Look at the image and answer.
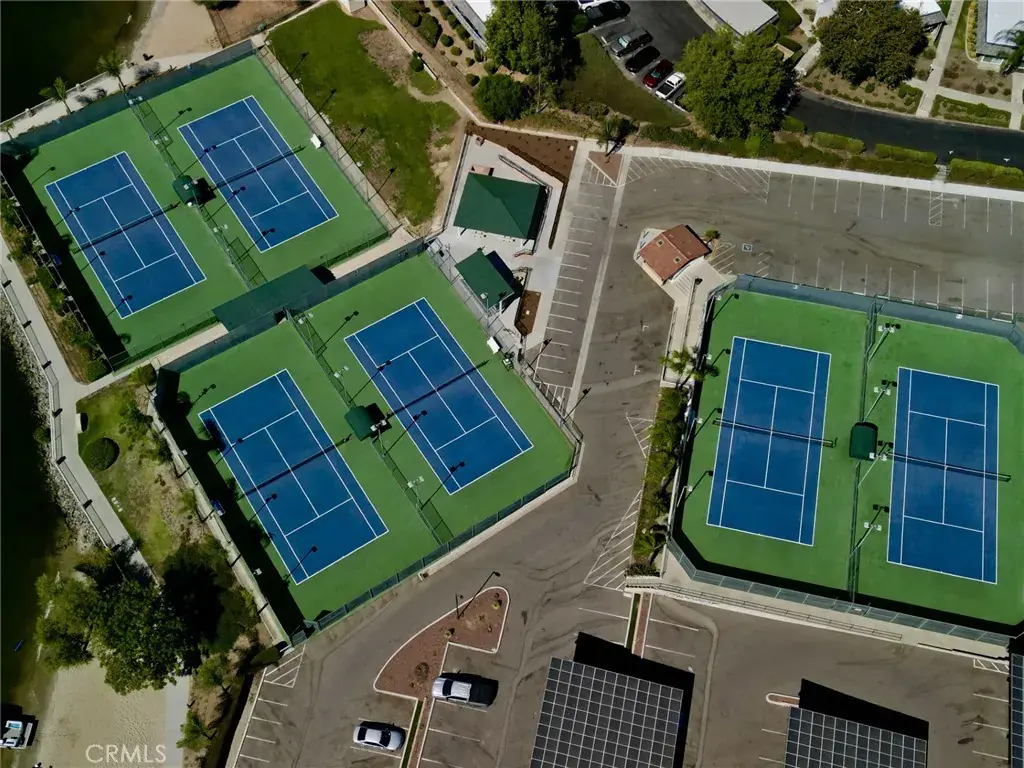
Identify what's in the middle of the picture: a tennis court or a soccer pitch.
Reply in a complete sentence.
Looking in the middle of the picture, you will find a tennis court.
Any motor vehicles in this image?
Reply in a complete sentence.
Yes, the frame does contain a motor vehicle.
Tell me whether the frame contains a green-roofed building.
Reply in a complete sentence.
Yes, the picture does show a green-roofed building.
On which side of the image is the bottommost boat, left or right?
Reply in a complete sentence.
It is on the left.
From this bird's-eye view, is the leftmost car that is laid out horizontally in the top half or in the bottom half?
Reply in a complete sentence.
Seen from above, the leftmost car that is laid out horizontally lies in the bottom half of the view.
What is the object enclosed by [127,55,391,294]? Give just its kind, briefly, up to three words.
tennis court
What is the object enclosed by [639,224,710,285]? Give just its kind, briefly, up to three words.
building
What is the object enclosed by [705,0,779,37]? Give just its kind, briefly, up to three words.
house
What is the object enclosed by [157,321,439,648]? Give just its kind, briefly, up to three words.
tennis court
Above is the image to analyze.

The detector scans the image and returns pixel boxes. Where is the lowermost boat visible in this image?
[0,715,36,756]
